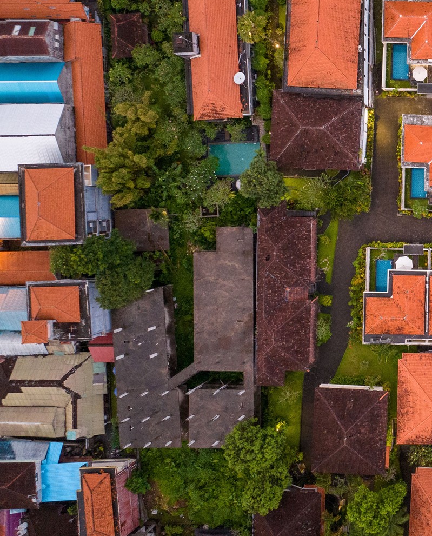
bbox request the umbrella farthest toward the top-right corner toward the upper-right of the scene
[413,67,427,81]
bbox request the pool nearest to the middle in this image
[206,140,264,180]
